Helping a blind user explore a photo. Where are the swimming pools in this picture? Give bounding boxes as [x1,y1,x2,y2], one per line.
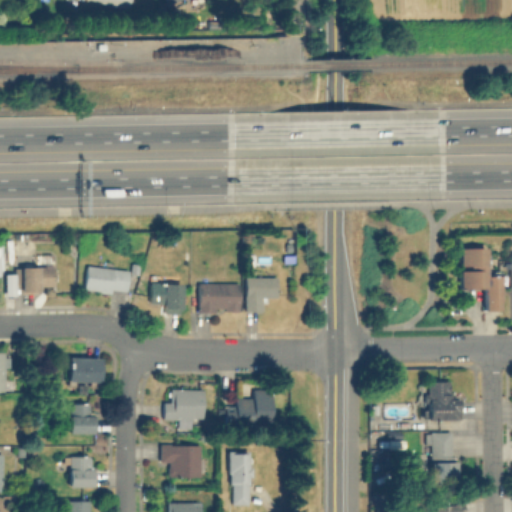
[252,255,273,267]
[377,404,412,420]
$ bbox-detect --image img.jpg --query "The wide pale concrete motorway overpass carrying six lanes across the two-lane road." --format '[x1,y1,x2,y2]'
[229,108,446,212]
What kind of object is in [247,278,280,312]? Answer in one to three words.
house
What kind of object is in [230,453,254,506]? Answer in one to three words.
house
